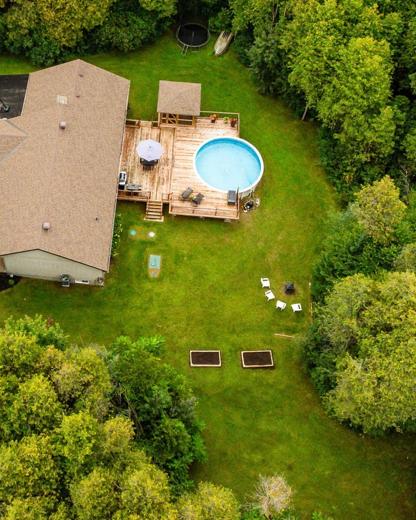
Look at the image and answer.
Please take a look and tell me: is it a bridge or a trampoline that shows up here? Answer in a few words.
trampoline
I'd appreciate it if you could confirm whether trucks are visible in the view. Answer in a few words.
No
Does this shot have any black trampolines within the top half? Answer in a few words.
Yes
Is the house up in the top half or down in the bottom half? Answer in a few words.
top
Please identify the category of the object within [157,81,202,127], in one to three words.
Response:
gazebo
